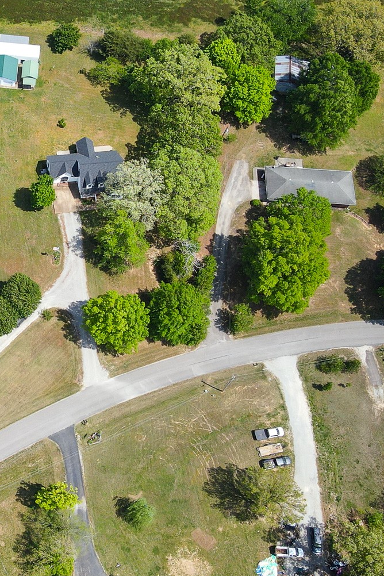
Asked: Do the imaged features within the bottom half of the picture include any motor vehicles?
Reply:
Yes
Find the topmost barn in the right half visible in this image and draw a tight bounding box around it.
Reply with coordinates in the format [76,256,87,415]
[268,51,309,102]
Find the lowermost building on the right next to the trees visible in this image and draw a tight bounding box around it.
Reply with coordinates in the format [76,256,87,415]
[262,166,356,215]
